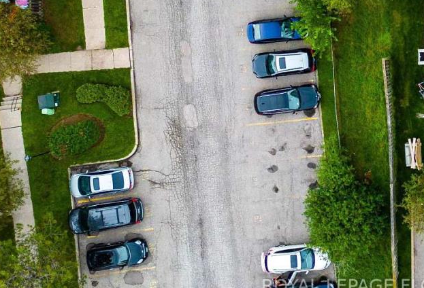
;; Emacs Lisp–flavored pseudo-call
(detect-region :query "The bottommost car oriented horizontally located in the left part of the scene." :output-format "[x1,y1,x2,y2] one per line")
[84,235,154,273]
